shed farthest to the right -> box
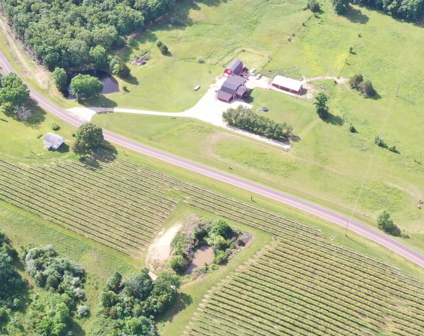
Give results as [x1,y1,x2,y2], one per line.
[271,75,305,94]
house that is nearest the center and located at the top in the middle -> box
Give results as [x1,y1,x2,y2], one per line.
[217,76,248,102]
